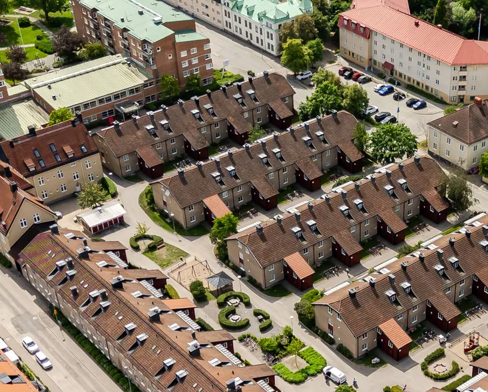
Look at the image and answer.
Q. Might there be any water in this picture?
No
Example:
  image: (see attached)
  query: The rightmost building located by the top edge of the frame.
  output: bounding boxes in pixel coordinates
[340,0,488,100]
